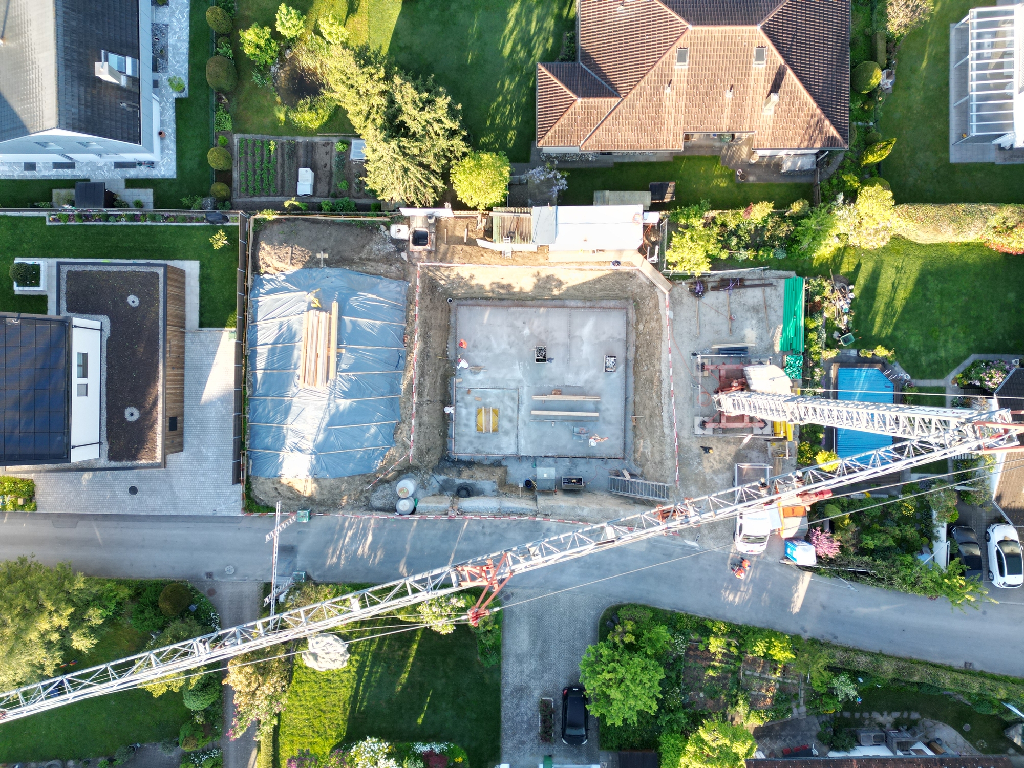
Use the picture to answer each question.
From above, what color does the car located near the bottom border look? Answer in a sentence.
In this view, the car located near the bottom border is black.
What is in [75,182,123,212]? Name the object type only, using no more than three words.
shed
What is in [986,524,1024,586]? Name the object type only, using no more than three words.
car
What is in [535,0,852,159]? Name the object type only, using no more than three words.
house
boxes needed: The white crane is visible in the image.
[0,361,1024,723]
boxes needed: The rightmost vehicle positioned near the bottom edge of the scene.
[559,686,590,746]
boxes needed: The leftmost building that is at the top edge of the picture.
[0,0,160,162]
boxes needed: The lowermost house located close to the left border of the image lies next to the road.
[0,263,187,466]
